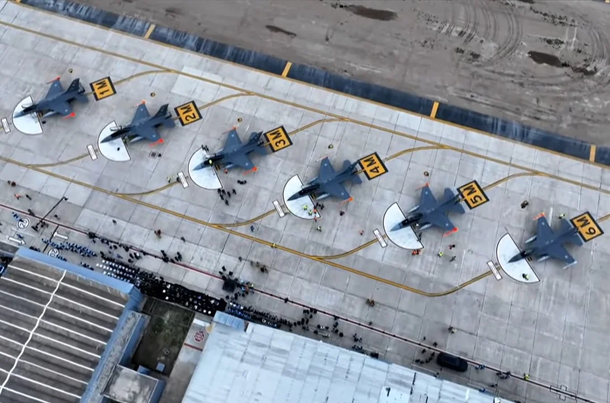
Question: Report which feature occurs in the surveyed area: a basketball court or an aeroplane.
aeroplane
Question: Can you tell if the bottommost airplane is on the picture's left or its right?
right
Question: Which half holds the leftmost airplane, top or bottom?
top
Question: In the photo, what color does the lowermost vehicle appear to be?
black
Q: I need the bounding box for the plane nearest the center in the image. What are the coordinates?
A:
[287,157,365,204]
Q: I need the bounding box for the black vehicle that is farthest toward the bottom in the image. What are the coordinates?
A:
[434,352,467,374]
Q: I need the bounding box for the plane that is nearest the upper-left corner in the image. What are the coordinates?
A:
[10,77,88,120]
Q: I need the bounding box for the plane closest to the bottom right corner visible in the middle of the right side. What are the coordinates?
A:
[506,215,586,268]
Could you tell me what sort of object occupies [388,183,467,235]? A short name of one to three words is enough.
airplane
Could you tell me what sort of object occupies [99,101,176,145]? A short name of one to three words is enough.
airplane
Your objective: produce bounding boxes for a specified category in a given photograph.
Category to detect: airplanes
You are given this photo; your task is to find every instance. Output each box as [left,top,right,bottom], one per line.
[189,127,269,174]
[10,77,88,120]
[287,157,365,204]
[506,215,586,268]
[388,183,467,235]
[99,101,176,145]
